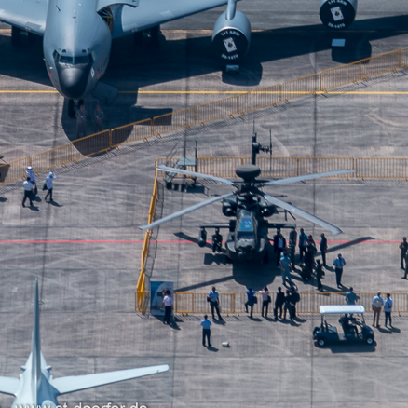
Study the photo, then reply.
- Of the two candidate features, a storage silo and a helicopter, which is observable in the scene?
helicopter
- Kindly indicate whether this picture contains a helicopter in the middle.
Yes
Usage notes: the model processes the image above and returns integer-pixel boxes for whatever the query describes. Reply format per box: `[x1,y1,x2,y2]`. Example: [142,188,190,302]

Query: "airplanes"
[0,275,171,408]
[0,0,253,121]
